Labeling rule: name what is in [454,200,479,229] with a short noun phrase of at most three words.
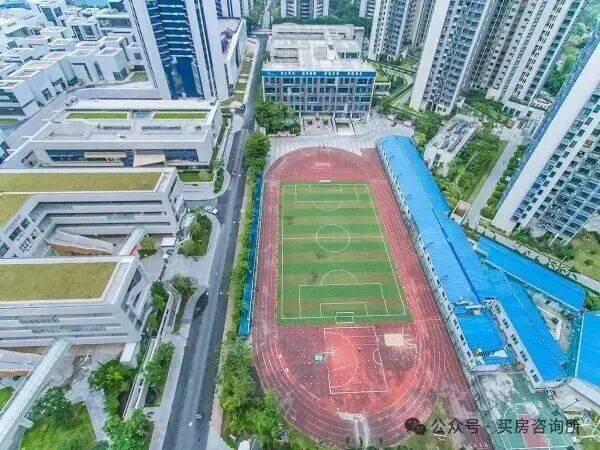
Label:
building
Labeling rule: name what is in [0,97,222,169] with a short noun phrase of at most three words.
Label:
building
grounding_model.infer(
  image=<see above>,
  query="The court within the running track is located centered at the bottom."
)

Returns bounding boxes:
[324,326,387,393]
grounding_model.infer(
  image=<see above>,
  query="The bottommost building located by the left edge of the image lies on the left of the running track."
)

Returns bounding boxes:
[0,255,152,340]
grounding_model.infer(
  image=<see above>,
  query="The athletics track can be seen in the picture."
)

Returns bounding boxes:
[249,147,494,450]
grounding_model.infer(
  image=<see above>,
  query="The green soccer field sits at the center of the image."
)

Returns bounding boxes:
[271,181,416,326]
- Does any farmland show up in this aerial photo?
No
